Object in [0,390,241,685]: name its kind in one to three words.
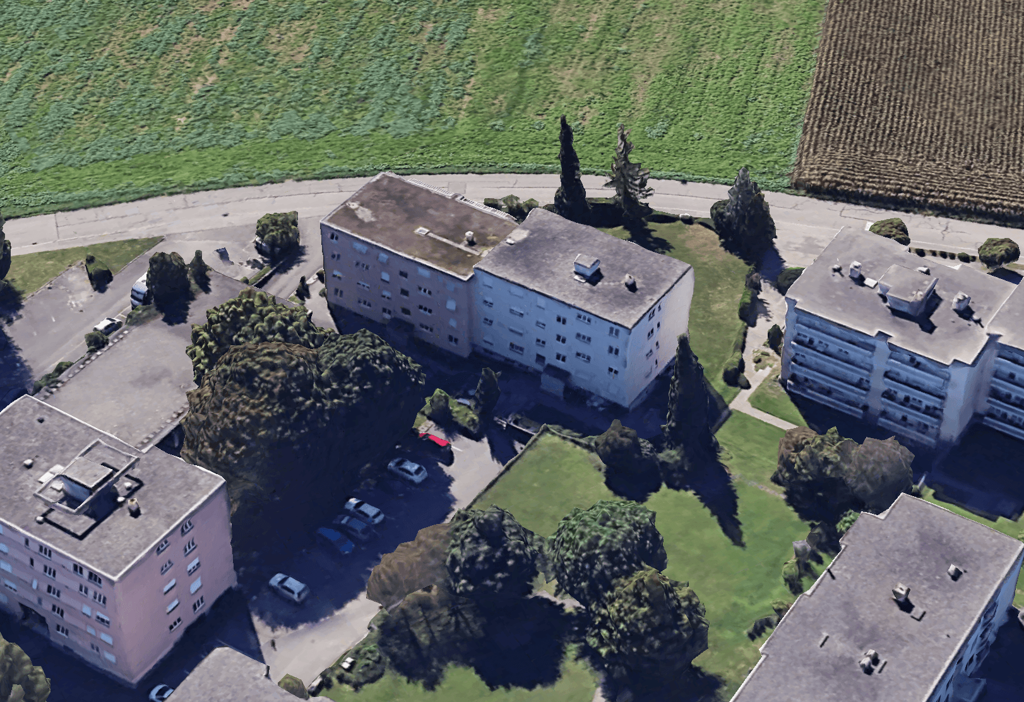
building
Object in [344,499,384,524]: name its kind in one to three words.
car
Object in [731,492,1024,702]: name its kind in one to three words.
building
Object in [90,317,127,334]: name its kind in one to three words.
car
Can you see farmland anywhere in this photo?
Yes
